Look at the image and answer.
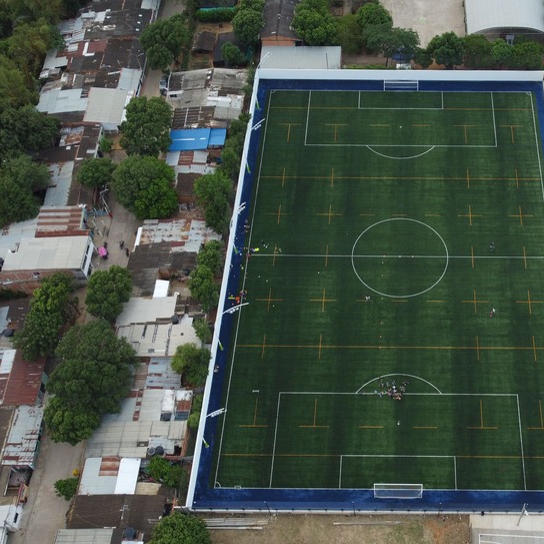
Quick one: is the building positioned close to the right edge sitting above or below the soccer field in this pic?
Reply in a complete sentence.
The building positioned close to the right edge is found above the soccer field in the photo.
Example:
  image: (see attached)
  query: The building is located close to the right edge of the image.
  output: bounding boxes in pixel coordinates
[462,0,544,45]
